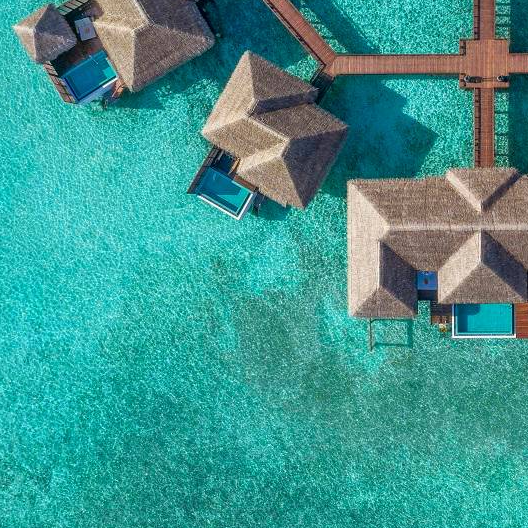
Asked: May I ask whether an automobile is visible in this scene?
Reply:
No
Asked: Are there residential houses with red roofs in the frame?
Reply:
No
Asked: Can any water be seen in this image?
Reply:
Yes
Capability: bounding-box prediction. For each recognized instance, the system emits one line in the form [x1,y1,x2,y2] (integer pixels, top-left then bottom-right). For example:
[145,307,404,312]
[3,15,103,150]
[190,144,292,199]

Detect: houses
[346,168,528,319]
[93,0,217,91]
[202,50,350,209]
